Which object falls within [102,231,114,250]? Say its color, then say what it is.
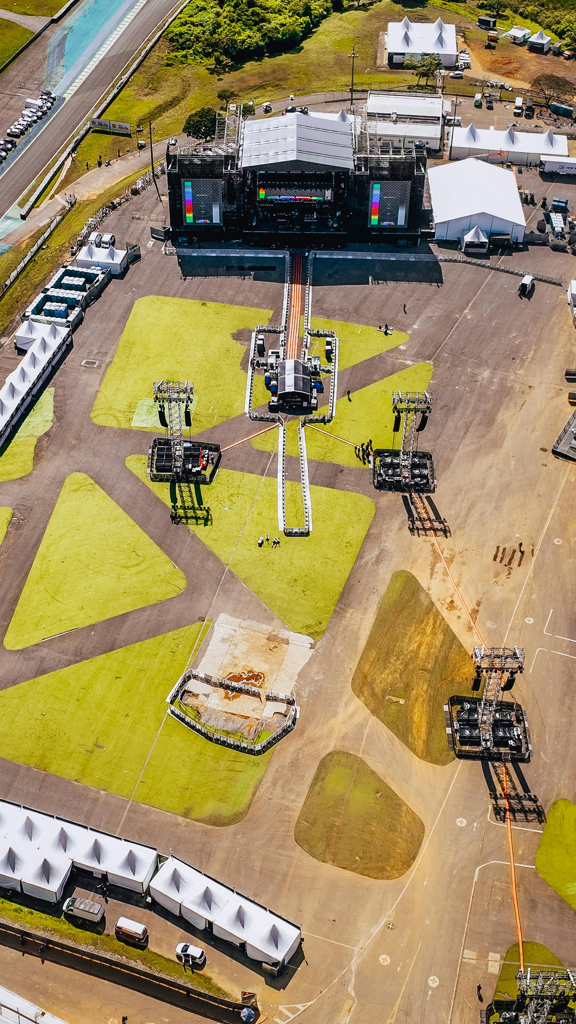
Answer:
white vehicle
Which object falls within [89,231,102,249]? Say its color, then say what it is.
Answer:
white vehicle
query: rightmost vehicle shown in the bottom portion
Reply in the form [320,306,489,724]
[173,945,209,970]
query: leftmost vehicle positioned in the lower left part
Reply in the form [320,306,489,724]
[65,898,109,924]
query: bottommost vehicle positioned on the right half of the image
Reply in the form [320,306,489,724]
[519,274,536,294]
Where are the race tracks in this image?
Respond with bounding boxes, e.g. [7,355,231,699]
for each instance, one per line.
[0,0,166,218]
